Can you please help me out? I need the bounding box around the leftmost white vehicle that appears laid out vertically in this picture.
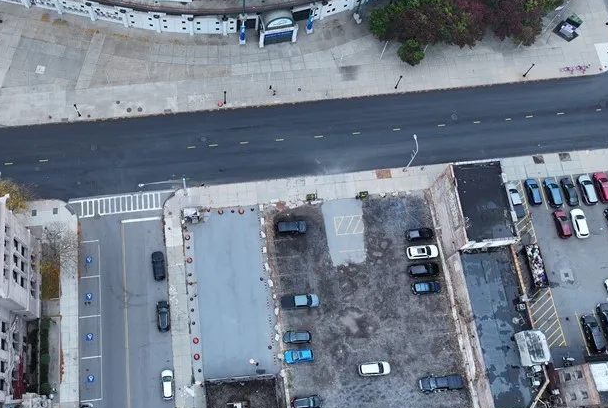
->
[158,367,175,403]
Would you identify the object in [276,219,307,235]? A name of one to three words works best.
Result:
car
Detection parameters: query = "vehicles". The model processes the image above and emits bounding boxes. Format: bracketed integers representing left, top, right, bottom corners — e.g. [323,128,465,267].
[150,251,166,282]
[575,176,599,205]
[404,225,436,242]
[408,260,440,278]
[601,277,608,294]
[282,347,316,365]
[411,279,440,295]
[523,178,545,207]
[154,300,171,333]
[406,243,438,260]
[504,182,531,218]
[280,328,313,346]
[579,315,607,350]
[281,292,319,310]
[542,179,565,208]
[158,367,175,403]
[420,374,462,392]
[592,301,608,338]
[290,392,324,408]
[567,209,592,239]
[276,219,307,235]
[357,360,391,378]
[591,173,608,202]
[557,178,580,207]
[552,210,574,237]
